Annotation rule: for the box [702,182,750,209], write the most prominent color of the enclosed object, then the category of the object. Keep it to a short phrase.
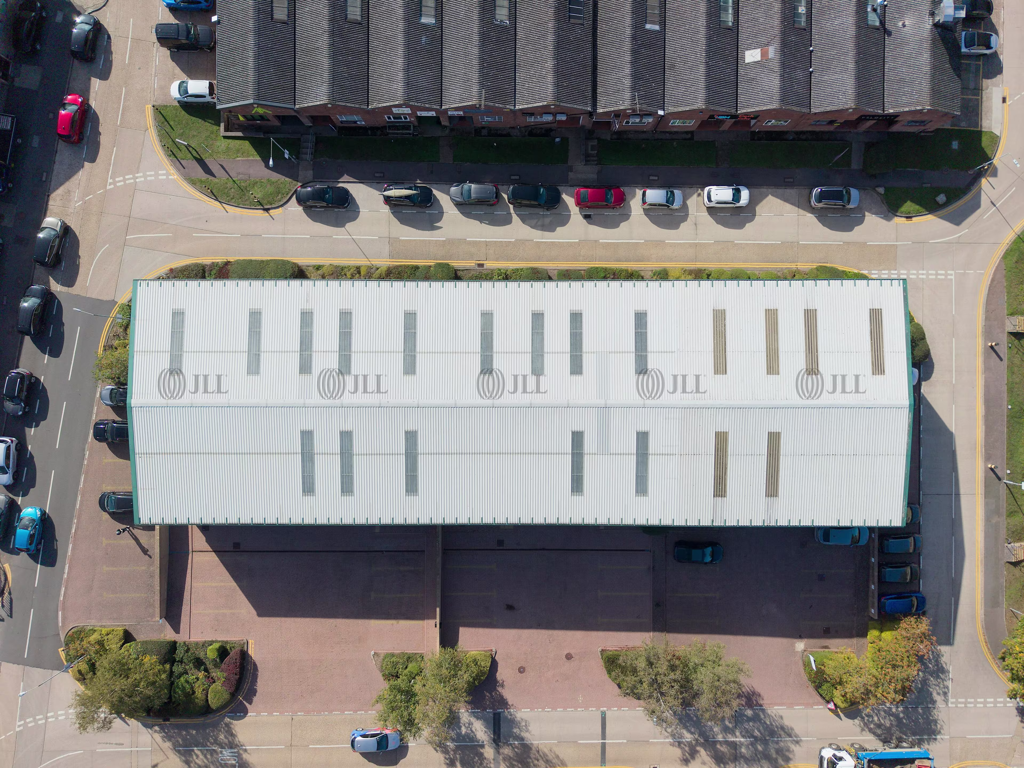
white car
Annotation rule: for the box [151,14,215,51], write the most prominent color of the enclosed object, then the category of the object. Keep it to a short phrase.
black car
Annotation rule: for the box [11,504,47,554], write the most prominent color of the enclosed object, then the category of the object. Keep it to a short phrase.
blue car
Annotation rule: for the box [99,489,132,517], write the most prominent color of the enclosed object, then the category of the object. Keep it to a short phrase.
black car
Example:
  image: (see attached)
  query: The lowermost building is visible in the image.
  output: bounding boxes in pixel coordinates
[124,276,916,529]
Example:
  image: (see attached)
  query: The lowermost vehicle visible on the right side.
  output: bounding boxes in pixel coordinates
[816,740,937,768]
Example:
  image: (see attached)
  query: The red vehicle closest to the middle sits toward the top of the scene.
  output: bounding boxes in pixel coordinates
[574,184,626,211]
